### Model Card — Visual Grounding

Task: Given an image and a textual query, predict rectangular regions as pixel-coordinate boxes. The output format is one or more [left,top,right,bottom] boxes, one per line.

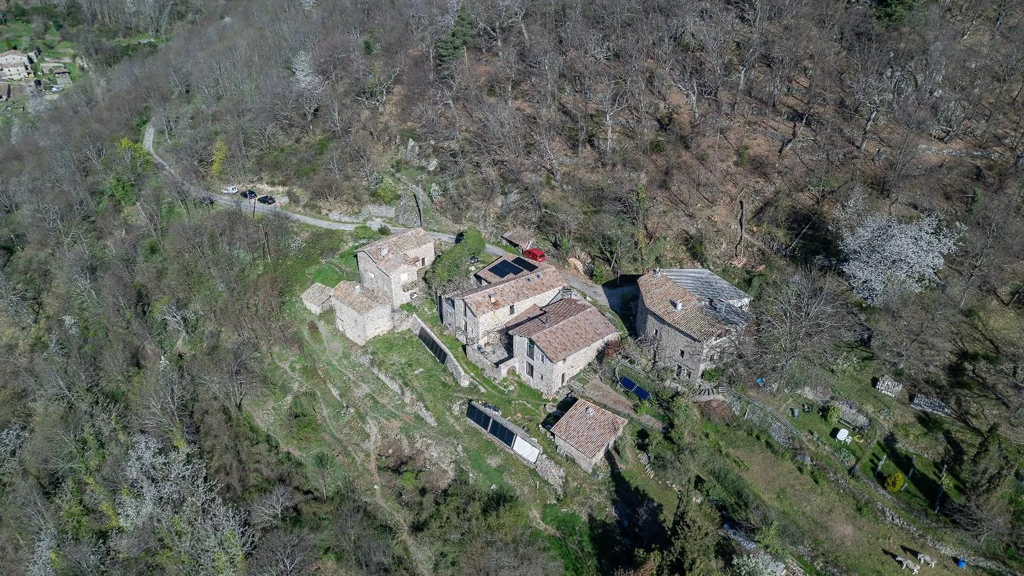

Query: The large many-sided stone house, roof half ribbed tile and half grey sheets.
[634,261,757,380]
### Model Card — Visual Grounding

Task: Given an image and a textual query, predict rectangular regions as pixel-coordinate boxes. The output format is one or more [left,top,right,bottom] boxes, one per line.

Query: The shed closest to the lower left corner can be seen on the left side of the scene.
[298,280,334,318]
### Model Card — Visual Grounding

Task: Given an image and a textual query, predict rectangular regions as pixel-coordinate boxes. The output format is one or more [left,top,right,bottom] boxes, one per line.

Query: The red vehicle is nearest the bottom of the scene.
[523,247,548,261]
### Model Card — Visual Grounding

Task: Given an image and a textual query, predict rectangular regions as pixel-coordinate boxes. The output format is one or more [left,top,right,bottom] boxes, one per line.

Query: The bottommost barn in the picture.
[551,393,630,479]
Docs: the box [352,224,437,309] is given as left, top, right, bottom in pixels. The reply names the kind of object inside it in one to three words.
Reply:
house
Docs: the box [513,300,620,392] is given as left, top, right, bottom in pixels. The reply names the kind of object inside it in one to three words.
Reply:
house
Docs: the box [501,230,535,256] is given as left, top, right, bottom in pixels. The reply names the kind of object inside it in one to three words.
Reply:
shed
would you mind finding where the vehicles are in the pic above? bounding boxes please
[219,183,239,194]
[523,247,548,261]
[238,190,258,199]
[257,195,277,204]
[197,196,216,206]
